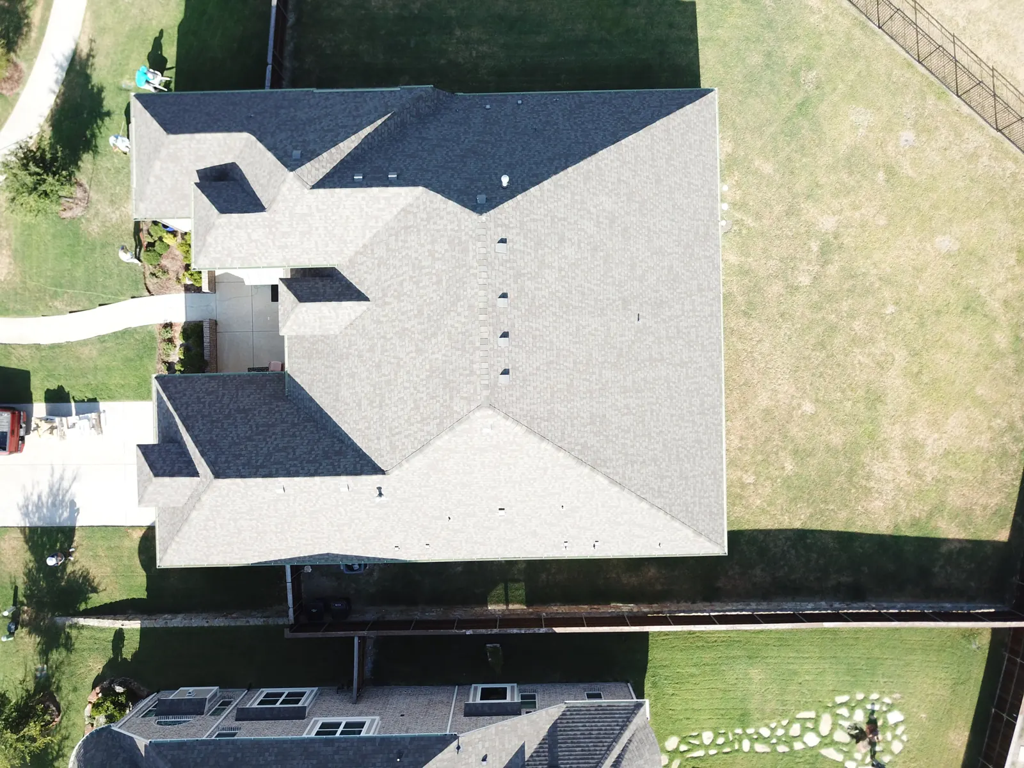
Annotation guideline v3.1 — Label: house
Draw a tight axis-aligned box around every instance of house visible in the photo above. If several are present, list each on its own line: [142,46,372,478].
[129,82,730,570]
[74,681,664,768]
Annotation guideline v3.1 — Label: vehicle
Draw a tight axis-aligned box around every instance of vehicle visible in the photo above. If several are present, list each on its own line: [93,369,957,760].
[0,408,29,454]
